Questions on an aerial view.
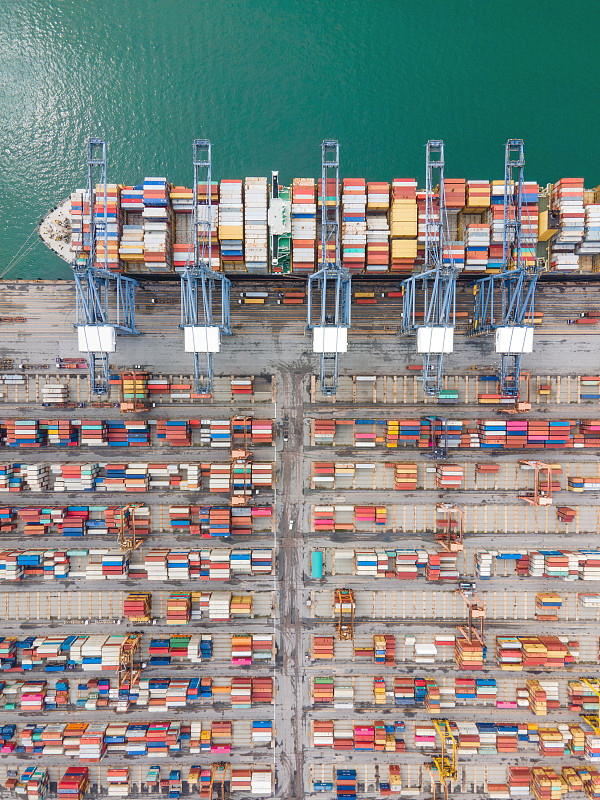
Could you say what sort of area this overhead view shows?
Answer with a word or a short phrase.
port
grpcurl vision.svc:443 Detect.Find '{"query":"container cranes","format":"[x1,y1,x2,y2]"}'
[435,503,466,554]
[179,138,239,393]
[334,590,357,645]
[208,762,231,800]
[72,138,148,393]
[454,590,486,644]
[120,371,150,415]
[498,371,534,415]
[517,460,553,508]
[118,633,146,690]
[229,416,253,461]
[580,676,600,735]
[423,416,451,461]
[120,503,147,552]
[229,460,254,507]
[394,138,456,393]
[302,139,352,393]
[430,720,459,784]
[462,138,541,393]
